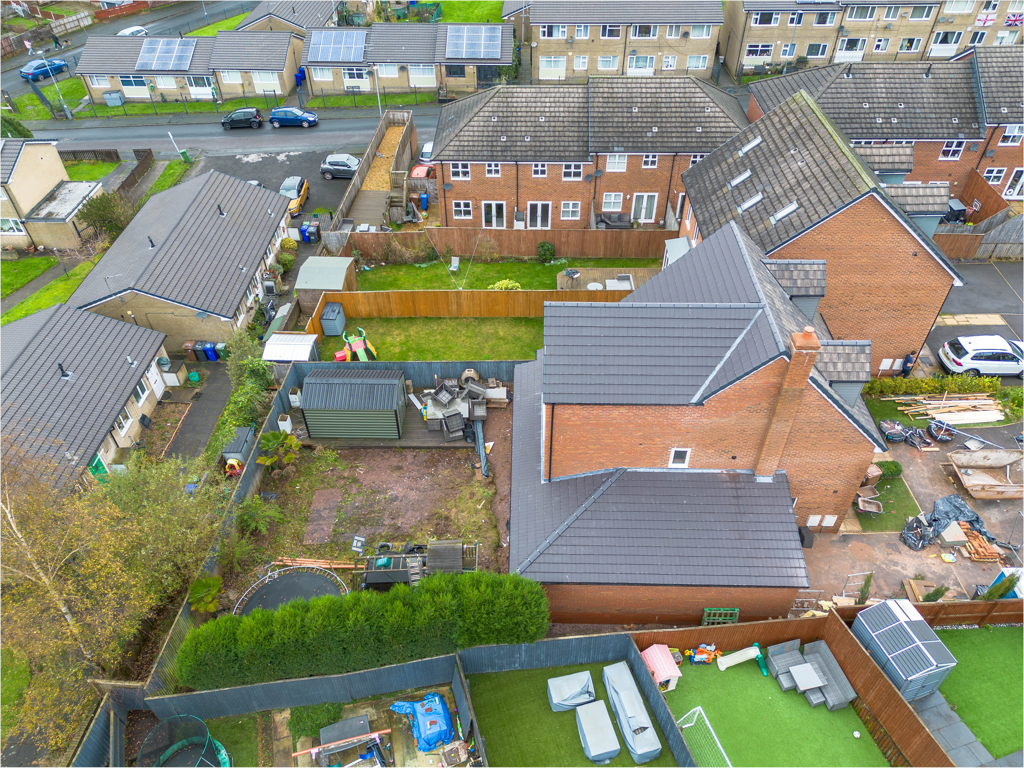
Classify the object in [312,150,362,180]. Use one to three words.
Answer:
car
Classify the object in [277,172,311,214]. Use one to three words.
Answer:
car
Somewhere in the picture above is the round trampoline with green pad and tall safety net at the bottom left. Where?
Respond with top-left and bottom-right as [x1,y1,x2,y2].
[131,710,242,768]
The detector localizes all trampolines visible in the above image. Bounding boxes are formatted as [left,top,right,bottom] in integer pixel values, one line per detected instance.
[230,557,345,635]
[131,710,242,768]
